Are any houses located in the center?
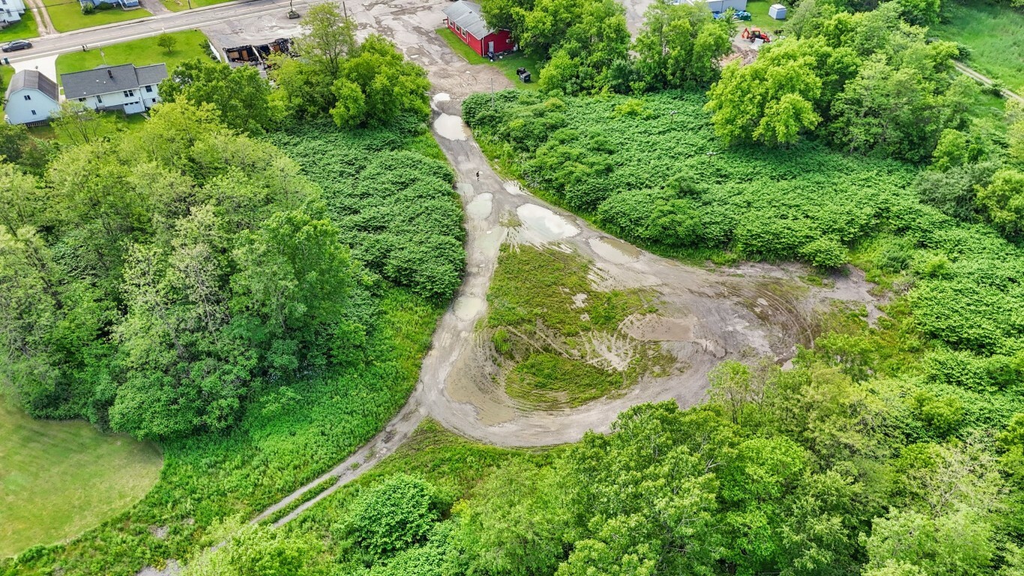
No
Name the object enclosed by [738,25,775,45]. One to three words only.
work vehicle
